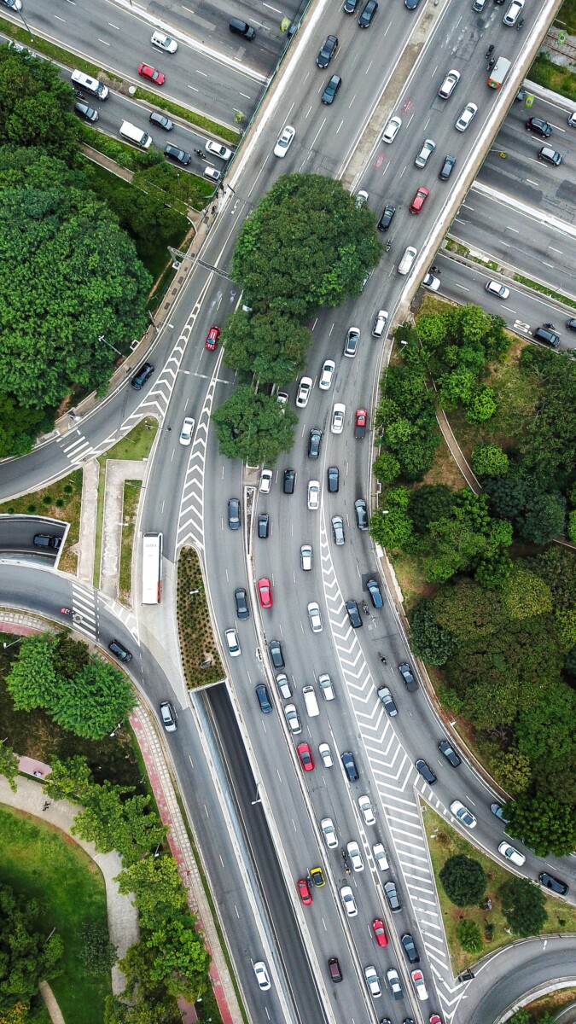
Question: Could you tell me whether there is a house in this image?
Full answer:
No, there appears to be no house in this shot.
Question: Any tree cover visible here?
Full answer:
Yes, some tree cover is visible.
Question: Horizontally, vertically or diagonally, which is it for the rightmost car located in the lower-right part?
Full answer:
In this picture, the rightmost car located in the lower-right part lies diagonally.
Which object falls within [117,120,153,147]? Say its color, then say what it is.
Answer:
white vehicle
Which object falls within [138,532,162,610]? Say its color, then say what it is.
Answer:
white bus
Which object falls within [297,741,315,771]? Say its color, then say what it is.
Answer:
red car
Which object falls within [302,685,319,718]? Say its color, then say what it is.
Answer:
white car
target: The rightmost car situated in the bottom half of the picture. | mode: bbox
[538,870,570,896]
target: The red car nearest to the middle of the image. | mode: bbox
[257,578,272,609]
